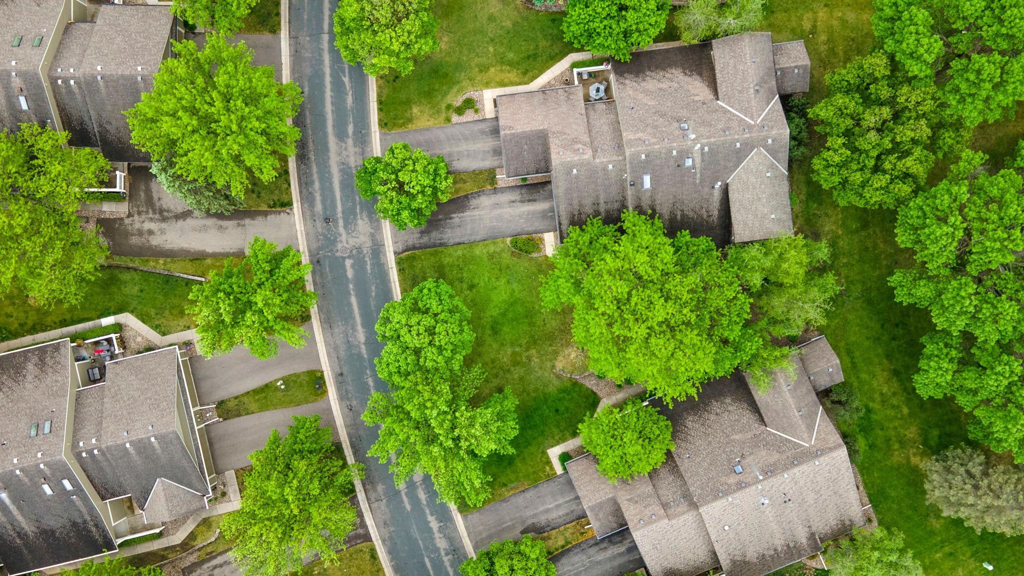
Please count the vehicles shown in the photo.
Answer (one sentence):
Not a single vehicle can be seen.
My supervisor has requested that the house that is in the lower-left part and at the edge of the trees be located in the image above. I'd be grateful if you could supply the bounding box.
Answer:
[0,338,220,576]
